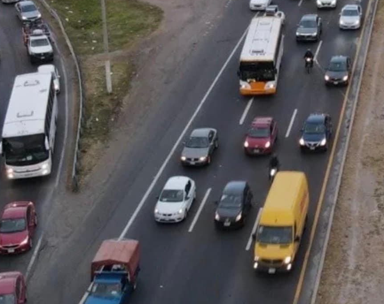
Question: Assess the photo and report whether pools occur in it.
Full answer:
No, the picture doesn't show any pool.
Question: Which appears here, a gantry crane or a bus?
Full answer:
I can see a bus in this picture.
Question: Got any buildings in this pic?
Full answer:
No, no building is visible in the view.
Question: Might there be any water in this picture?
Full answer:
No, no water is visible.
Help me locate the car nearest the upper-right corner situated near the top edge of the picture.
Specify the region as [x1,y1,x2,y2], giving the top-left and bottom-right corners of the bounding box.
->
[338,5,364,28]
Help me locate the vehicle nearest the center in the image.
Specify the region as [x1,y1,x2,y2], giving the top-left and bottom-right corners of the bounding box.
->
[182,126,221,162]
